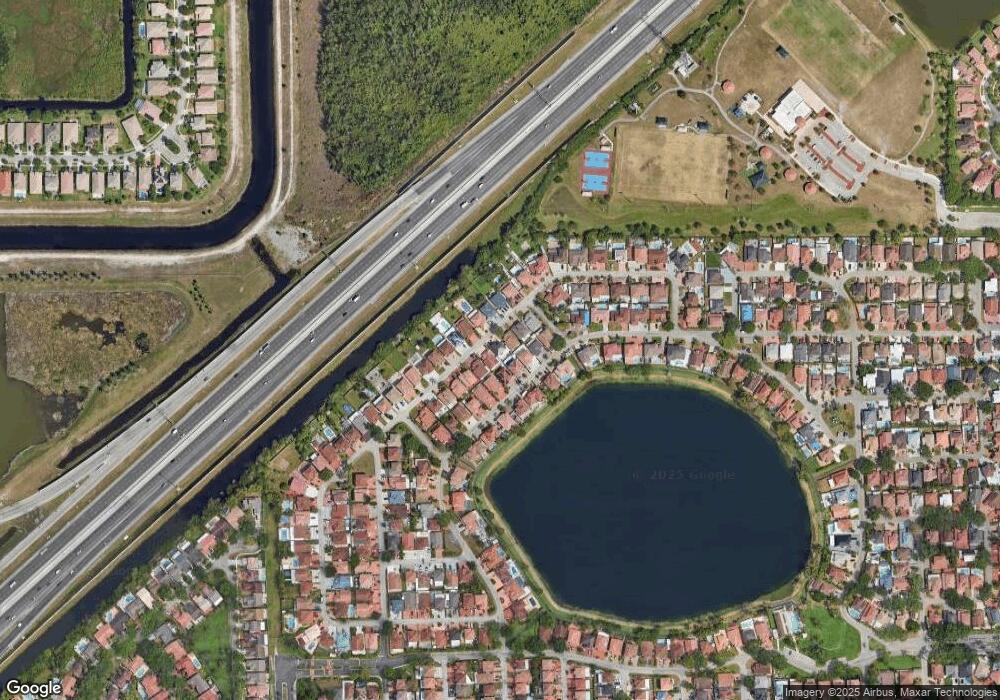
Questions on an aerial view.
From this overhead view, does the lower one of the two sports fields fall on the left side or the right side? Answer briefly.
right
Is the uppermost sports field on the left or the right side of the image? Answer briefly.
right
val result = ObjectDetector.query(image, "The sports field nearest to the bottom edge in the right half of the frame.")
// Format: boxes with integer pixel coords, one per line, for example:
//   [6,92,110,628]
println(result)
[612,124,728,204]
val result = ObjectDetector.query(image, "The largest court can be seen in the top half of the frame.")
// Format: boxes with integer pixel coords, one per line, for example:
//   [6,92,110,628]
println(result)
[580,150,611,198]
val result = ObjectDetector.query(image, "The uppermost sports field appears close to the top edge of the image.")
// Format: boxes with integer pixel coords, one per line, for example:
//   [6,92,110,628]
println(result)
[761,0,898,101]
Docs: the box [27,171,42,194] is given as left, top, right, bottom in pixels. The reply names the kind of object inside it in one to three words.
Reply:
house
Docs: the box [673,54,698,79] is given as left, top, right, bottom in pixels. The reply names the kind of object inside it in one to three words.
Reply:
building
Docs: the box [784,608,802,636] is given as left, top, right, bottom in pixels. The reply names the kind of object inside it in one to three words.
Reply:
swimming pool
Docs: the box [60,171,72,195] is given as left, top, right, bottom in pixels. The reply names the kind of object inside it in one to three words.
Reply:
house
